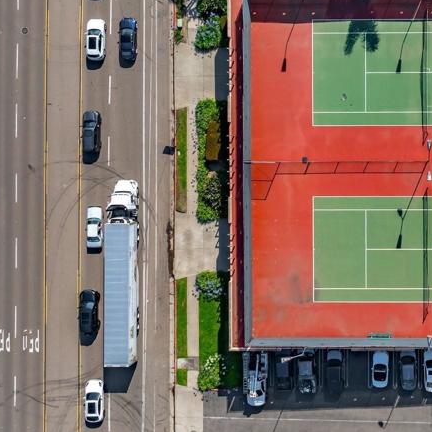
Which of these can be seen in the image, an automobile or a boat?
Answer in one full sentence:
Looking from above, you can make out an automobile.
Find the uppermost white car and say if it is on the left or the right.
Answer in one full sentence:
You can find the uppermost white car on the left side of the picture.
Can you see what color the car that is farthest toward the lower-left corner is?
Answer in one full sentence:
The car that is farthest toward the lower-left corner looks white in the image.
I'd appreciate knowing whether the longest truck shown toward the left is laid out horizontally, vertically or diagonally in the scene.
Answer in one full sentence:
From this overhead view, the longest truck shown toward the left appears to run vertically.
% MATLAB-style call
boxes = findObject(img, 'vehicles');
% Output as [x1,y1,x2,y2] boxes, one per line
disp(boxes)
[423,350,432,392]
[277,349,293,389]
[399,350,416,390]
[84,378,106,423]
[85,207,105,248]
[79,290,102,335]
[86,20,107,61]
[118,19,139,60]
[372,349,389,388]
[105,177,143,367]
[245,353,266,404]
[81,112,104,154]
